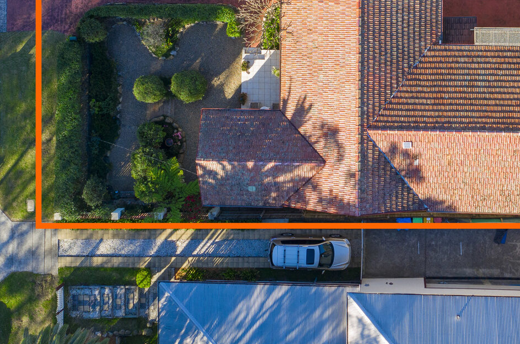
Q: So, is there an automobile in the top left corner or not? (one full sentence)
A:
No, I see no automobile in the top left corner.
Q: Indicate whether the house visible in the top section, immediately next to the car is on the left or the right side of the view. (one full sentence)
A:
You can find the house visible in the top section, immediately next to the car on the right side of the picture.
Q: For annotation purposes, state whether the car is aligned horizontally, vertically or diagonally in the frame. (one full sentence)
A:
Seen from above, the car lies horizontally.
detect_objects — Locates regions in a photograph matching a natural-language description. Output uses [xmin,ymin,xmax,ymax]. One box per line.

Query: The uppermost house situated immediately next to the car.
[196,0,520,217]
